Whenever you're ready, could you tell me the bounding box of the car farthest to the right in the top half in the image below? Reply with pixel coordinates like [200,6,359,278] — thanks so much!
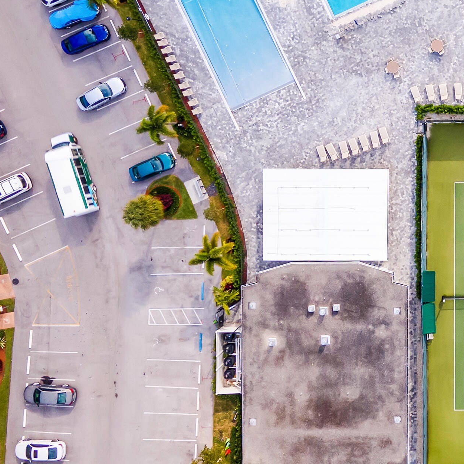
[128,152,177,183]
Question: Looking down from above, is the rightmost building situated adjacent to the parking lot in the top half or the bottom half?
bottom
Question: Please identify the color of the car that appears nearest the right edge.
blue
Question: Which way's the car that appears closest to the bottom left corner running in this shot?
from side to side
